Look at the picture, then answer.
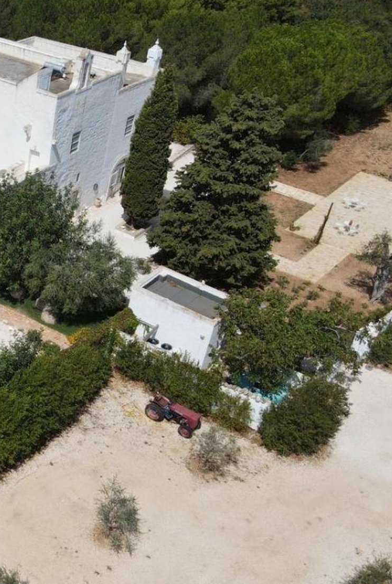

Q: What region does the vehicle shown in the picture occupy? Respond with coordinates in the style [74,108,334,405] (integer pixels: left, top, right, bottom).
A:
[139,387,206,440]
